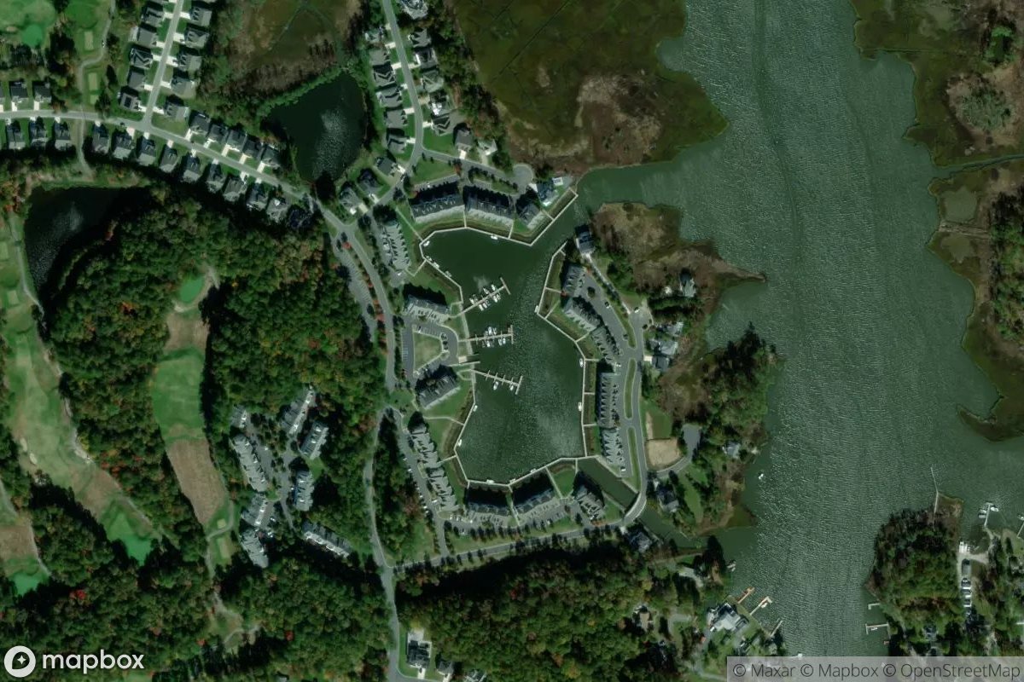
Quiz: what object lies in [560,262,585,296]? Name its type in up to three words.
building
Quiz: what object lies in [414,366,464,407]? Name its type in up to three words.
building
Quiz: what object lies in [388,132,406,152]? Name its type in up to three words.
house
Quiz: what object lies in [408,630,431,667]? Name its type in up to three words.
house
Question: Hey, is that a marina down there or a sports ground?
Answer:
marina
